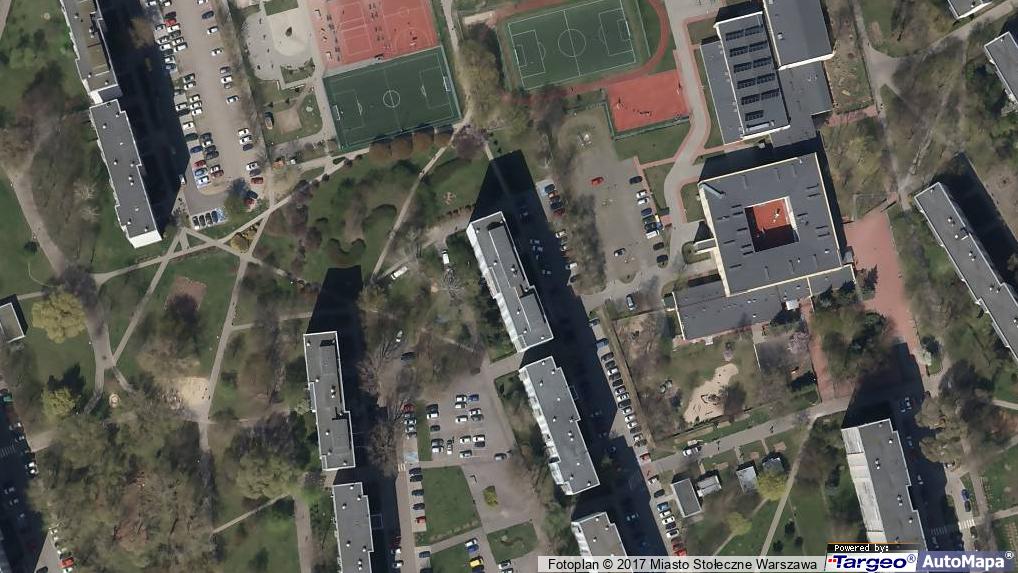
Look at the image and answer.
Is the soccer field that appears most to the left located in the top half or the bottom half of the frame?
top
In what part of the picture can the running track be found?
top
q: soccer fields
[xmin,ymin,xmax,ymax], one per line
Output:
[323,47,460,149]
[503,0,642,96]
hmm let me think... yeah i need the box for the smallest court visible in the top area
[606,70,689,130]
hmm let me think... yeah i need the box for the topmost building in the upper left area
[60,0,124,103]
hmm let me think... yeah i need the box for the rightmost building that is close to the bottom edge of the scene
[839,419,934,573]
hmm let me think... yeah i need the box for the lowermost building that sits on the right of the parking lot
[569,512,633,573]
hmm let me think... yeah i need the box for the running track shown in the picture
[477,0,669,101]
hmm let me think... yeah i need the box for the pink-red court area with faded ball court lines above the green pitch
[315,0,440,71]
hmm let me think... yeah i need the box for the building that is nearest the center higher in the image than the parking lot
[462,212,553,353]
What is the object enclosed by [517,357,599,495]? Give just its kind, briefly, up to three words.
building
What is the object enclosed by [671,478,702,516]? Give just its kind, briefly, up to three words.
shed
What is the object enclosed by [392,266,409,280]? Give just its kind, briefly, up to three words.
vehicle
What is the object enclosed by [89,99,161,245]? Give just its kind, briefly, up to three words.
building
